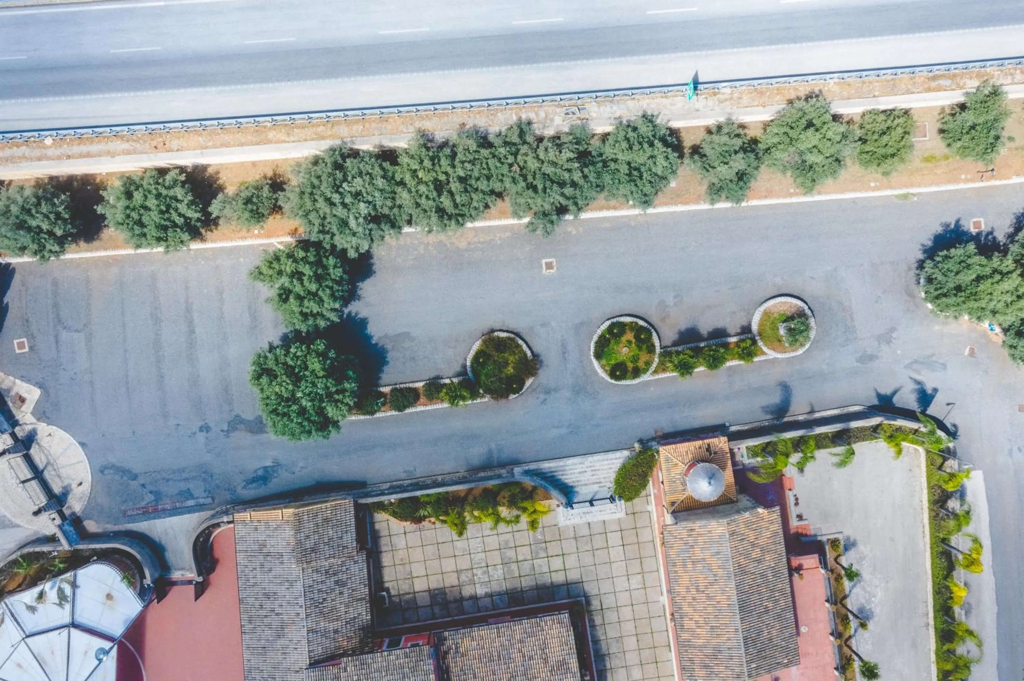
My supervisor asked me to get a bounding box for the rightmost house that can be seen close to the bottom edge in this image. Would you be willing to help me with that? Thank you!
[660,487,804,681]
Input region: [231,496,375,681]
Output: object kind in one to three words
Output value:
house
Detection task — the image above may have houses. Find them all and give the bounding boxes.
[660,487,804,681]
[432,602,579,681]
[231,496,375,681]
